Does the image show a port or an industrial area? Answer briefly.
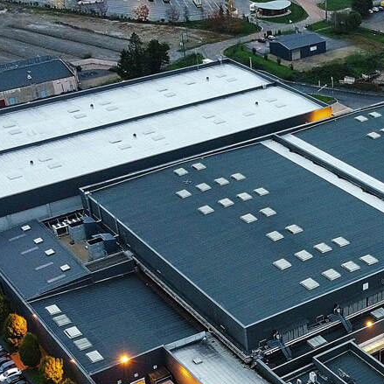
industrial area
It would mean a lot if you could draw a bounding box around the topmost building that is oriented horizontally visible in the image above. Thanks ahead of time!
[248,2,295,20]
